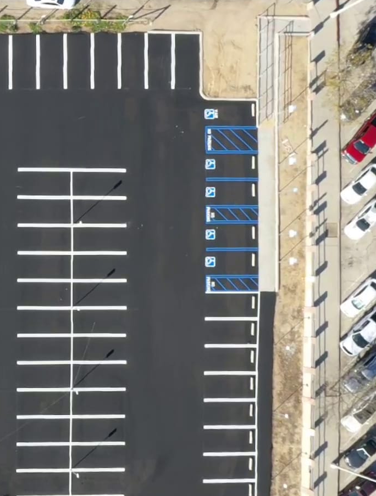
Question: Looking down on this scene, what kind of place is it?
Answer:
parking lot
